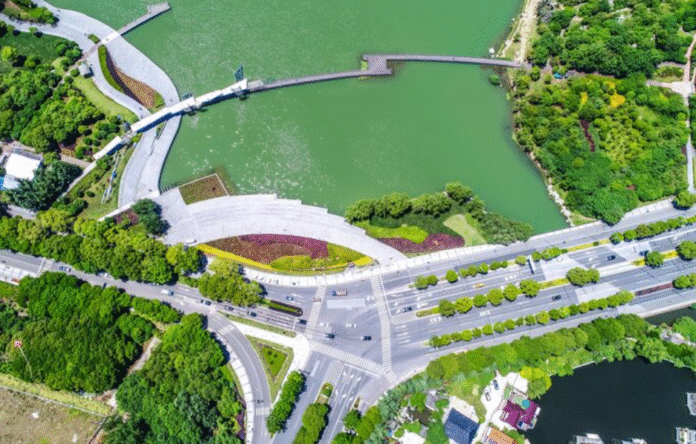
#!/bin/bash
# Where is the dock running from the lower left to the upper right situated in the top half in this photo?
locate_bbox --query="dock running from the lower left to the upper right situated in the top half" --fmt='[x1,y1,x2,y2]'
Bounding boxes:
[117,0,171,37]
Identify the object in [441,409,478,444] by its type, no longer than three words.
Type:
house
